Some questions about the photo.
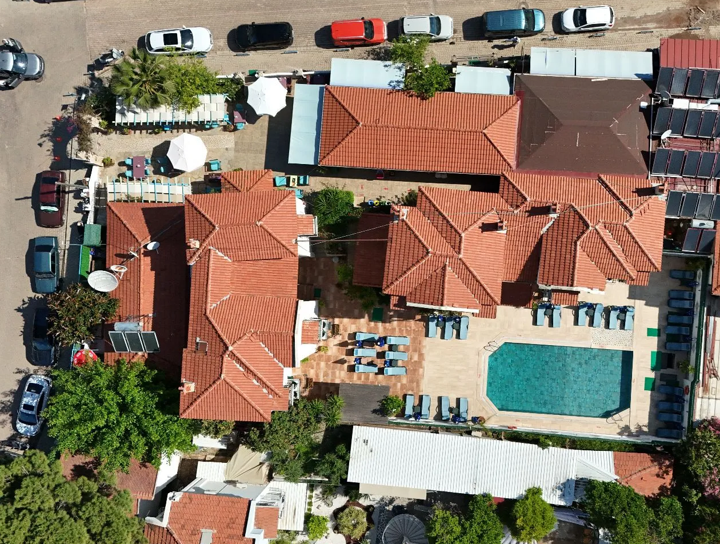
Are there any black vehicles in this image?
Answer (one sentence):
Yes, there's a black vehicle here.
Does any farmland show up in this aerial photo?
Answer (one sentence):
No, no farmland is visible.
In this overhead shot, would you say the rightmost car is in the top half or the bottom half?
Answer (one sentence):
You can find the rightmost car in the top half.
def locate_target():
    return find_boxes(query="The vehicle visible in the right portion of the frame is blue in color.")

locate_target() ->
[483,5,544,40]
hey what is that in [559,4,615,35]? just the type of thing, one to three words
car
